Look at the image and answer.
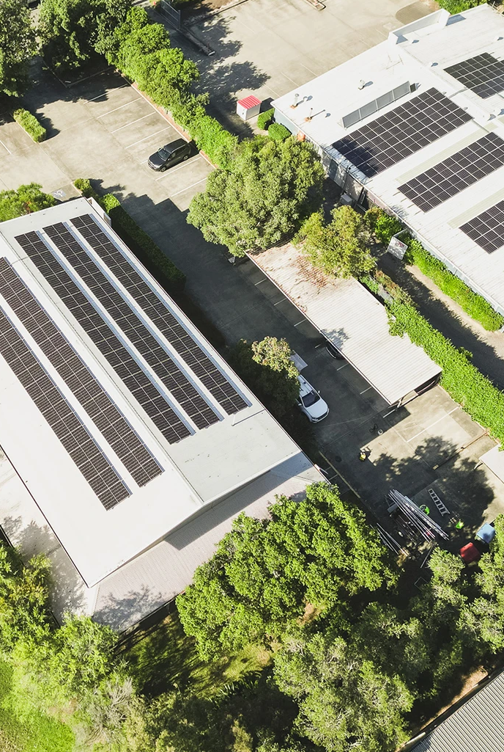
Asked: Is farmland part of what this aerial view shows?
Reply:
No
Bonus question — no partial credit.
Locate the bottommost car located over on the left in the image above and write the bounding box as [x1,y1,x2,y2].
[145,135,192,171]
